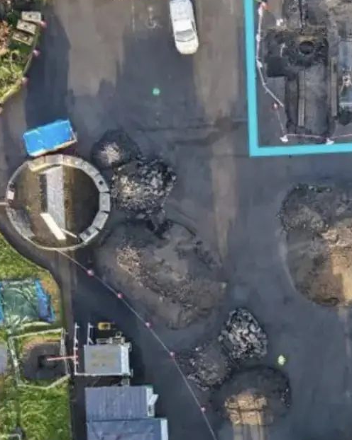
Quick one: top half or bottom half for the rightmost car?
top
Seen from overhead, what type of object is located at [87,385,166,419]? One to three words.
building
